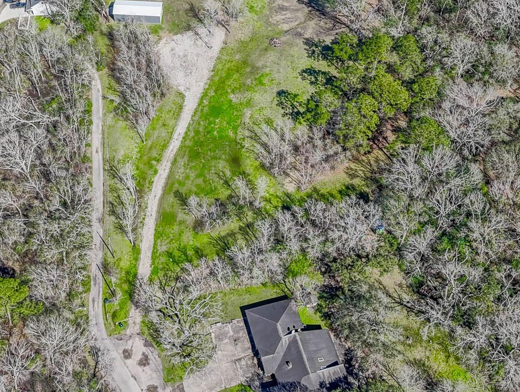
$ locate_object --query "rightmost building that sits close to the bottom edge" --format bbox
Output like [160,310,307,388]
[245,298,358,392]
